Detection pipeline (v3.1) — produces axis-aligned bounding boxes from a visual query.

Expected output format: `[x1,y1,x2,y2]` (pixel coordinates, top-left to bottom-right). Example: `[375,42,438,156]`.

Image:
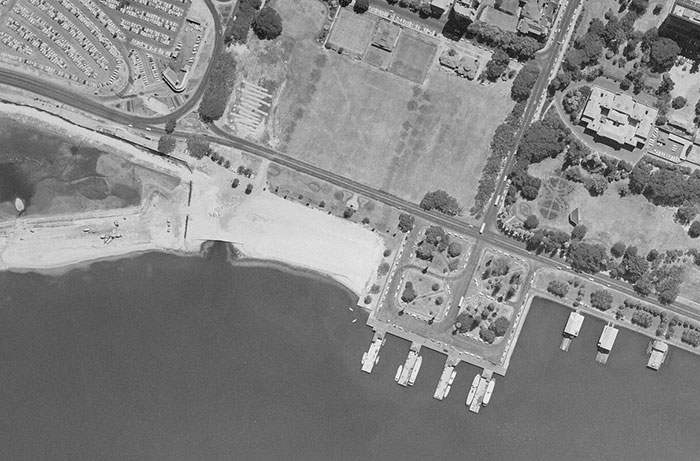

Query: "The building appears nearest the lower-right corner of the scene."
[645,337,669,371]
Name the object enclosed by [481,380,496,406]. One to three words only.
vessel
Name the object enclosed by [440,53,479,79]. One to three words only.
building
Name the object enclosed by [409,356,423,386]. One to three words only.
vessel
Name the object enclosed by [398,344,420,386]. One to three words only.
pier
